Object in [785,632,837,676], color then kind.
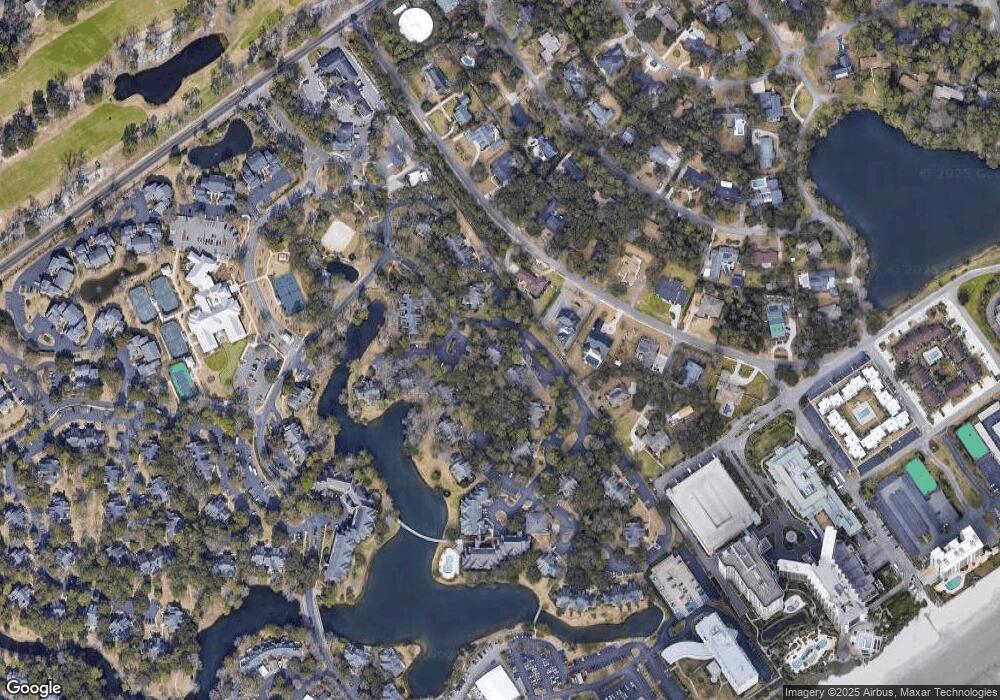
white swimming pool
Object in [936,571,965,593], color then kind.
white swimming pool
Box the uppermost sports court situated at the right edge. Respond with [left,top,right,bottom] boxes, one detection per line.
[955,423,988,459]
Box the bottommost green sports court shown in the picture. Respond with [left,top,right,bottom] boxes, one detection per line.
[905,459,937,493]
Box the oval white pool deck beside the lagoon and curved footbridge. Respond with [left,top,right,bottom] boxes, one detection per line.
[438,547,460,580]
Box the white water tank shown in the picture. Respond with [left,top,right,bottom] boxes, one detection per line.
[399,9,433,44]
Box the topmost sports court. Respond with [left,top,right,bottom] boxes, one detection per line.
[322,221,354,252]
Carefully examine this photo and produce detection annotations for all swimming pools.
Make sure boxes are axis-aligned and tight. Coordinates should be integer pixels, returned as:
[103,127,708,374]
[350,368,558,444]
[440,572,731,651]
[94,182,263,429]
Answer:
[852,630,882,653]
[785,632,837,676]
[751,179,767,189]
[852,399,876,425]
[720,402,733,416]
[785,597,803,613]
[936,571,965,593]
[923,346,943,365]
[461,56,474,66]
[438,547,460,580]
